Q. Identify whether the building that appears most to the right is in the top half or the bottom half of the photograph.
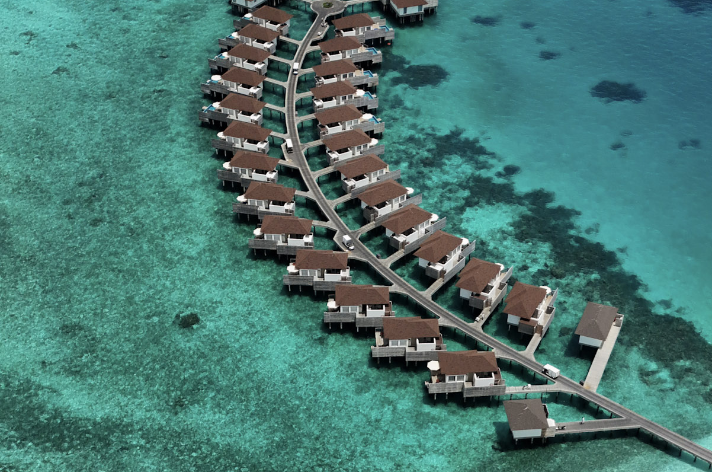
bottom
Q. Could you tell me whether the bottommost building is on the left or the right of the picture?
right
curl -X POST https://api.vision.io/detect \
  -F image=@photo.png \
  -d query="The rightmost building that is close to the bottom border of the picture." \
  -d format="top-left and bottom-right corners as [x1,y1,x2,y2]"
[502,398,557,457]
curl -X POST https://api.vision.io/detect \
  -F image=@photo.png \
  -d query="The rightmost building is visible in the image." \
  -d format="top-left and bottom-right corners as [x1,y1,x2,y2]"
[572,301,622,366]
